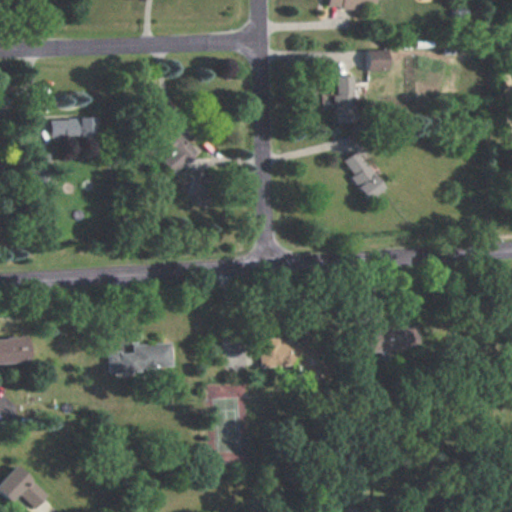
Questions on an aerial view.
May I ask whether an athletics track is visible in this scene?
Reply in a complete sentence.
No, the picture doesn't show any athletics track.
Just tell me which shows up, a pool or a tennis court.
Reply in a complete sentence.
The one in the frame is a tennis court.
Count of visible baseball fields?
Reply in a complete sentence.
There are no baseball fields in the image.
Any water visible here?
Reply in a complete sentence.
No, water can't be seen anywhere here.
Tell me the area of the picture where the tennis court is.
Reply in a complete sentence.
The tennis court appears toward the bottom of the photo.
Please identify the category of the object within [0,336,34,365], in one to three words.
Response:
house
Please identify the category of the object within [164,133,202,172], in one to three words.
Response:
house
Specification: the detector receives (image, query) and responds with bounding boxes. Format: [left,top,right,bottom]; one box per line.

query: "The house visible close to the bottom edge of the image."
[0,464,48,508]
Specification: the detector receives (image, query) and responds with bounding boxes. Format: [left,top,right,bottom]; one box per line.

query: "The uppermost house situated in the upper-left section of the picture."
[52,116,95,140]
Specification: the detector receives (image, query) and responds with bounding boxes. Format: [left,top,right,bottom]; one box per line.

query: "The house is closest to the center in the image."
[260,335,300,369]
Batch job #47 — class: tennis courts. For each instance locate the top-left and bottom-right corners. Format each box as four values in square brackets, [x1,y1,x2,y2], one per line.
[206,384,247,462]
